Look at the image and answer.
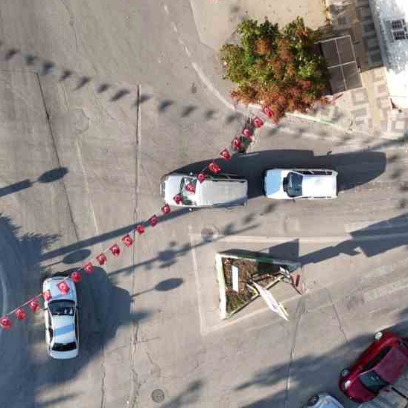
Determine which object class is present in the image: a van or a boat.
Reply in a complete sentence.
The image shows a van.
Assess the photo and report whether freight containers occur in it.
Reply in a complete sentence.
No, this view has no freight container in it.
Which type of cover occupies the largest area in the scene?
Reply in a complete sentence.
For the most part, this view shows paved ground.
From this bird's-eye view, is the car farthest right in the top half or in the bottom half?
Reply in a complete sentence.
The bottom half of the photo is where the car farthest right is.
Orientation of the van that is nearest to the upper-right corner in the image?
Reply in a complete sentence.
From this overhead view, the van that is nearest to the upper-right corner appears to run horizontally.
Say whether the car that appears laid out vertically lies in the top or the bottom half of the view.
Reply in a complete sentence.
The car that appears laid out vertically is in the bottom half of the image.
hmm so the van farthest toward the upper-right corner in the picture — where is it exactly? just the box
[259,165,338,203]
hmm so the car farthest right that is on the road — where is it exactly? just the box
[335,328,408,400]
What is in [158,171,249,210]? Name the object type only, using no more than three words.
van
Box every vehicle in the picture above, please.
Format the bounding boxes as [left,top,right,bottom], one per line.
[158,171,249,210]
[301,393,338,408]
[259,165,338,203]
[41,271,81,358]
[335,328,408,400]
